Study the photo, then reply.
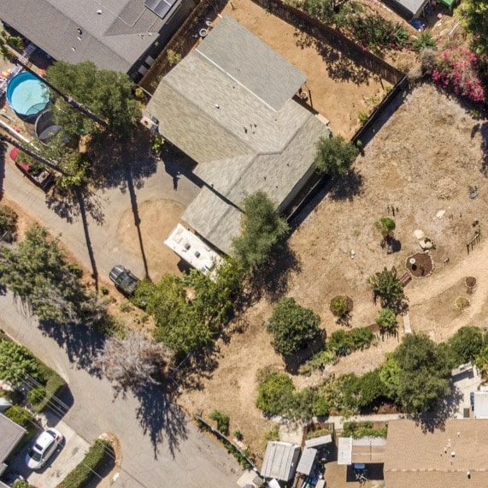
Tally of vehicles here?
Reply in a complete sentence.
The picture shows 4 vehicles.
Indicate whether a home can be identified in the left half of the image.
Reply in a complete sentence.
Yes, a home is visible in the left half of the image.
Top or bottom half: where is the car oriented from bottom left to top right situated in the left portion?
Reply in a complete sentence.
You can find the car oriented from bottom left to top right situated in the left portion in the bottom half.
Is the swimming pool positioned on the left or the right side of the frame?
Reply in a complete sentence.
The swimming pool is on the left side of the image.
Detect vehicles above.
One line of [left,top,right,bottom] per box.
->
[100,259,143,303]
[153,218,240,285]
[21,426,64,470]
[5,148,53,188]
